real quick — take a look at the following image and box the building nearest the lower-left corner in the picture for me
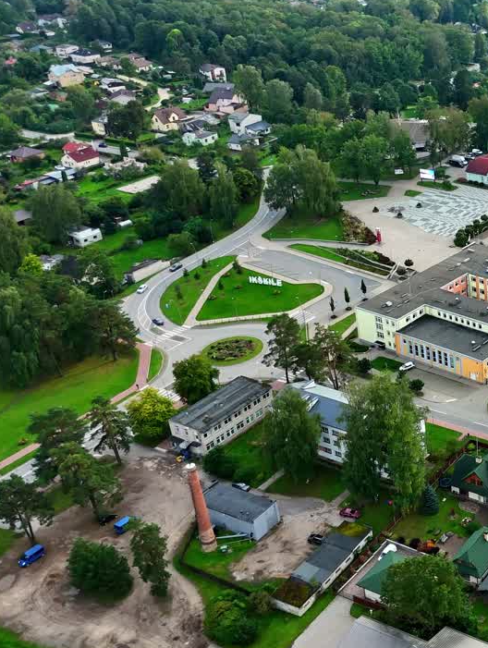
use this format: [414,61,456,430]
[194,475,284,538]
